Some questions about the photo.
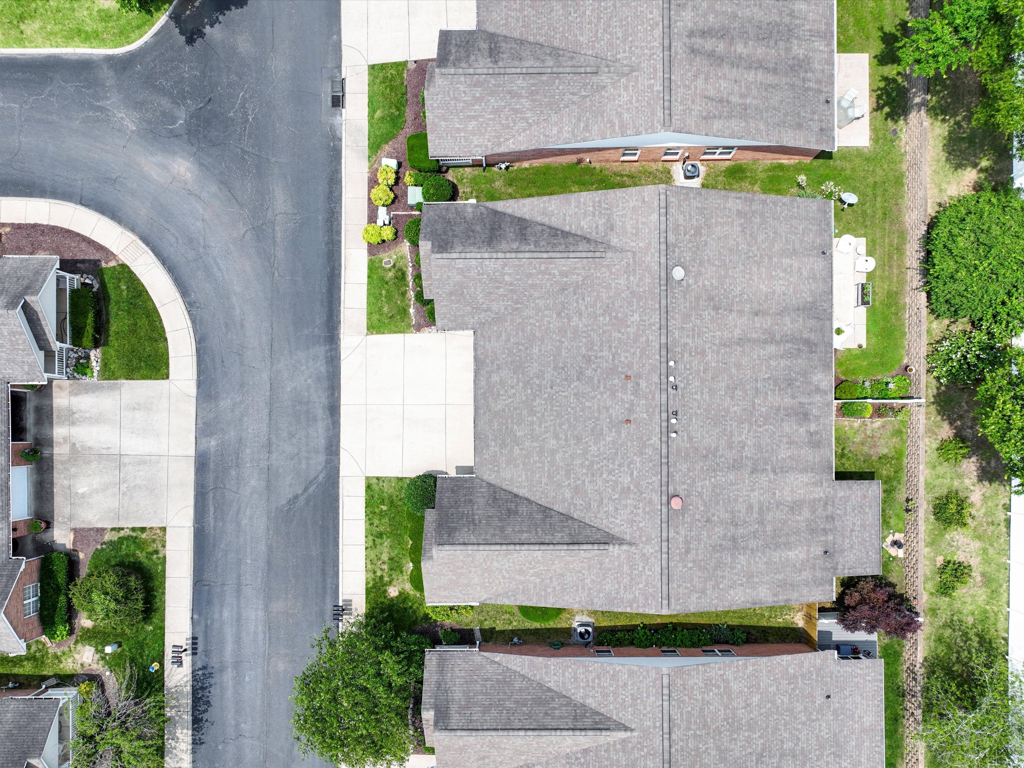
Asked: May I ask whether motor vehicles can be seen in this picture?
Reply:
No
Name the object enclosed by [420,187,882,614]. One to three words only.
house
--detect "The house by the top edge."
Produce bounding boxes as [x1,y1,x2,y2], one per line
[423,0,838,175]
